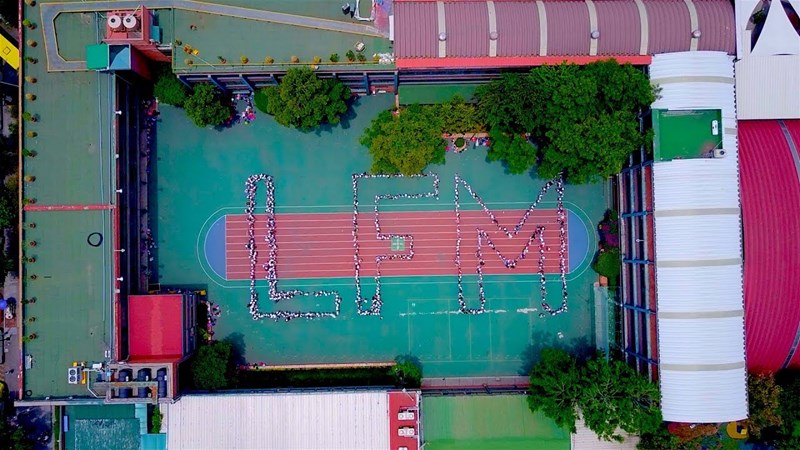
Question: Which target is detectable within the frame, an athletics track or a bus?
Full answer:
I can see an athletics track in this picture.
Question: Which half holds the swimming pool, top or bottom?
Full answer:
You can find the swimming pool in the bottom half.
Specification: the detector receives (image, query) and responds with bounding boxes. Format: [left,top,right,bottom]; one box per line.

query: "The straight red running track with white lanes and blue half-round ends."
[197,201,598,288]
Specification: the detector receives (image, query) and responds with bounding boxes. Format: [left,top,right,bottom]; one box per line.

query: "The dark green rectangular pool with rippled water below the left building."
[69,402,147,450]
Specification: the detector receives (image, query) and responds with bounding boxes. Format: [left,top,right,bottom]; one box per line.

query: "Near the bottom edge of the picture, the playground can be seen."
[656,414,770,450]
